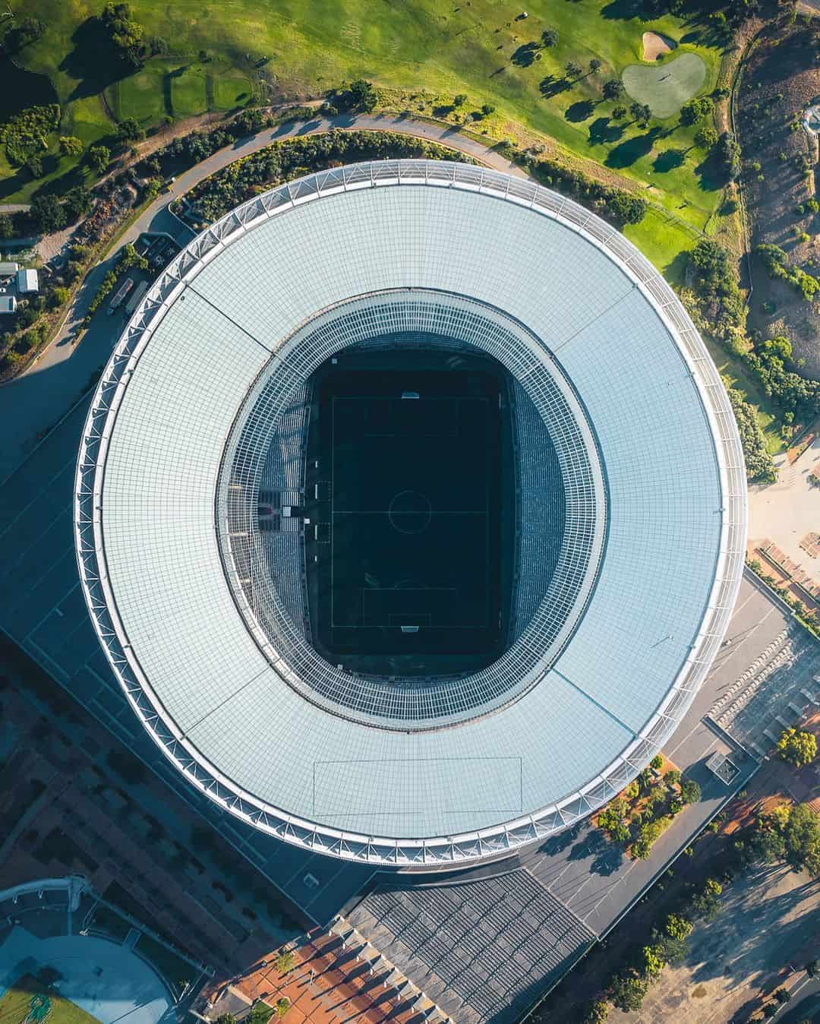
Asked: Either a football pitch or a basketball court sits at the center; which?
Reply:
football pitch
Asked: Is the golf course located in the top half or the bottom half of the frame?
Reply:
top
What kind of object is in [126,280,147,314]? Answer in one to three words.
truck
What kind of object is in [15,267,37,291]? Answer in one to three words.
shed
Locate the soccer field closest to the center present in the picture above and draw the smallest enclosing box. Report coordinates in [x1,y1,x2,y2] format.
[310,356,510,668]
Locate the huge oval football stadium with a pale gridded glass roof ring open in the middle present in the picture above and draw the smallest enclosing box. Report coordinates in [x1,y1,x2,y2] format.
[73,158,749,865]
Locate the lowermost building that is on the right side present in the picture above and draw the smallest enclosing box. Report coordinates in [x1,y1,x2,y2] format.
[705,752,743,787]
